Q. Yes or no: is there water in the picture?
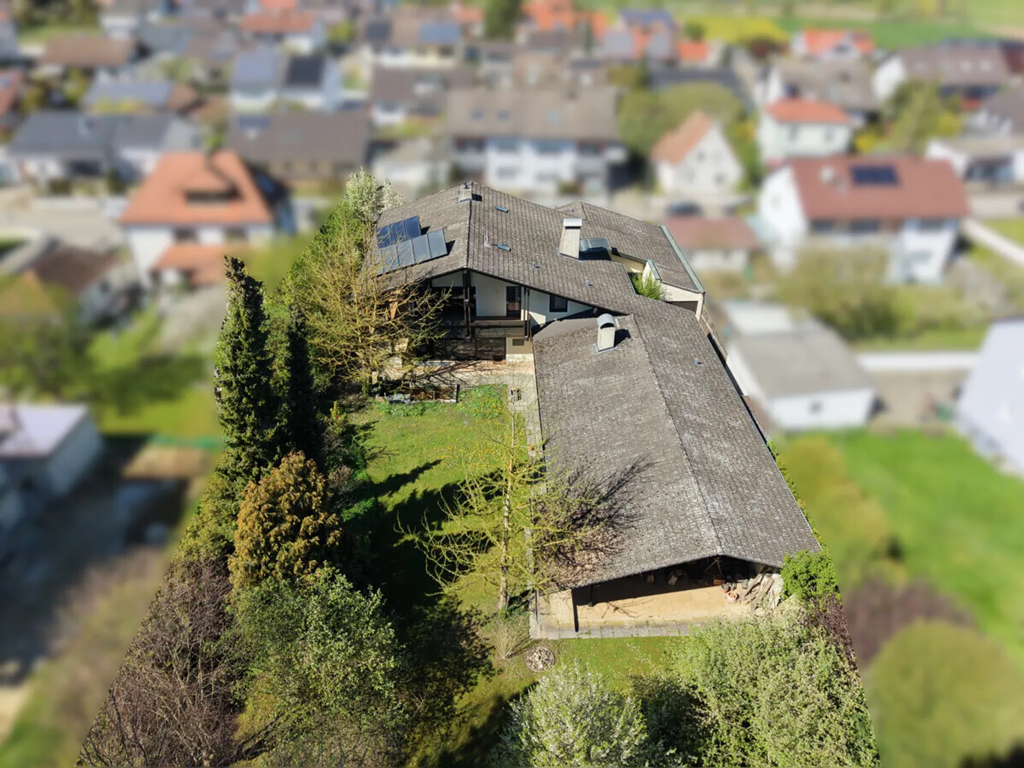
No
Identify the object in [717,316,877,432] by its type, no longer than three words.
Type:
building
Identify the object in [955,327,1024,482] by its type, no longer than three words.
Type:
house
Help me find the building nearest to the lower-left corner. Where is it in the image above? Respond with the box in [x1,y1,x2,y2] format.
[0,399,104,511]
